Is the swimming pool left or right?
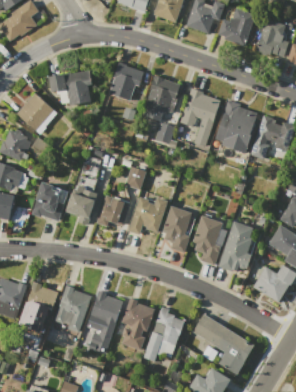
left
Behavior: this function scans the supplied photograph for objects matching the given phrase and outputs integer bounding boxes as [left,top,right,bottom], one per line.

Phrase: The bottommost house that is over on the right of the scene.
[190,368,231,392]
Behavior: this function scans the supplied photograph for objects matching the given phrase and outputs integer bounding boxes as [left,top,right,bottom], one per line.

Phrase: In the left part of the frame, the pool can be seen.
[72,366,98,392]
